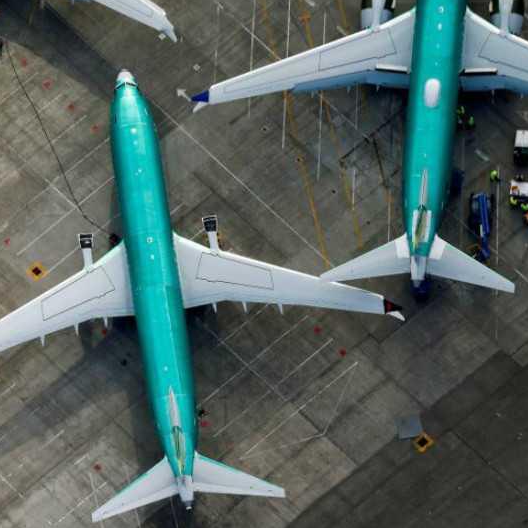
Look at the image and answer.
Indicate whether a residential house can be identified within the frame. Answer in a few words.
No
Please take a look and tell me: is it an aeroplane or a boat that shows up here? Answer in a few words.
aeroplane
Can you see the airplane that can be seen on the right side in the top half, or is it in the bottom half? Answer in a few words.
top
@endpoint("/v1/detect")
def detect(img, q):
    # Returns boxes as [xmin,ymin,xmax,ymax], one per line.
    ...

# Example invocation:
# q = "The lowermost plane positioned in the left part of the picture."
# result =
[0,68,404,523]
